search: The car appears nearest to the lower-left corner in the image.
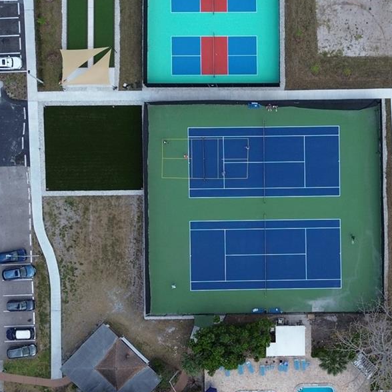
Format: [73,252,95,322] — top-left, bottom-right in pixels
[6,344,38,360]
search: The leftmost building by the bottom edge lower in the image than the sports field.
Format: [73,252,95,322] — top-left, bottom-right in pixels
[62,323,161,392]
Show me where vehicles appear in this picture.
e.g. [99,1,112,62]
[6,298,35,312]
[6,344,38,360]
[3,265,35,280]
[0,249,28,264]
[7,327,34,341]
[0,55,23,71]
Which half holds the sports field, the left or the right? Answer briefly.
left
